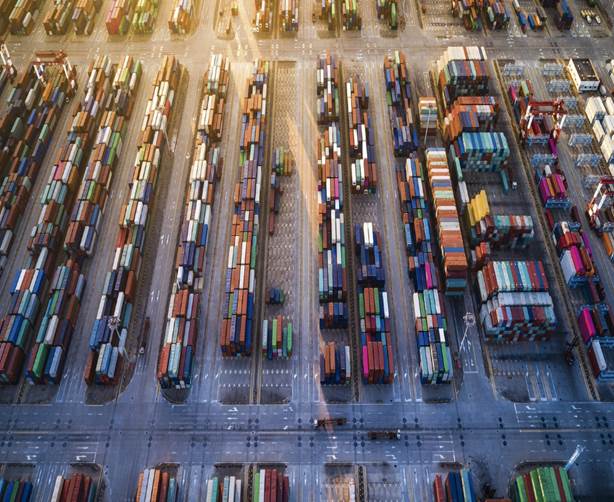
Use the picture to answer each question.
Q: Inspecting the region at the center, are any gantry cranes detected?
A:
No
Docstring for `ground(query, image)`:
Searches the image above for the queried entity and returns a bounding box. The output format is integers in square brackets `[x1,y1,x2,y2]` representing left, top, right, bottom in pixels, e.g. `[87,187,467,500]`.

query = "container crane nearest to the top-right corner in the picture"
[519,98,574,144]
